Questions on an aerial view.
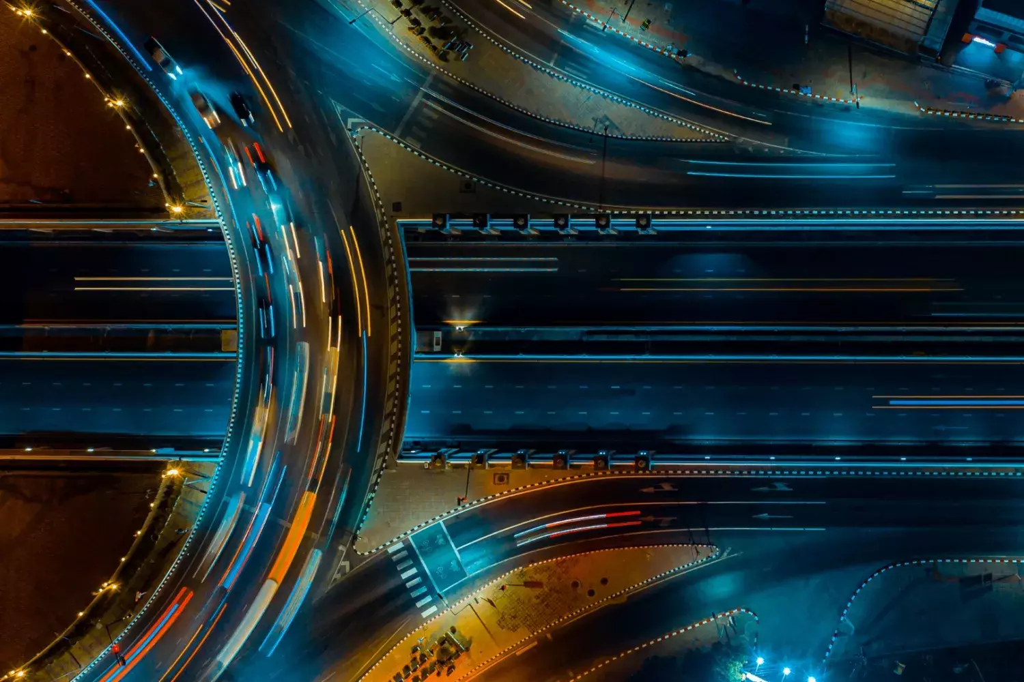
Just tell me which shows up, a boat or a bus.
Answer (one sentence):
There is a bus in the scene.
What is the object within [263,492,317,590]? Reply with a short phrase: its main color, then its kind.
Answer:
orange bus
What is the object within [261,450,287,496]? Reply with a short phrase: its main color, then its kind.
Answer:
blue truck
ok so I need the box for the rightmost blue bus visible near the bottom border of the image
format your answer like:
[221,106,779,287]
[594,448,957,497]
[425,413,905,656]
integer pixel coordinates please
[253,551,321,661]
